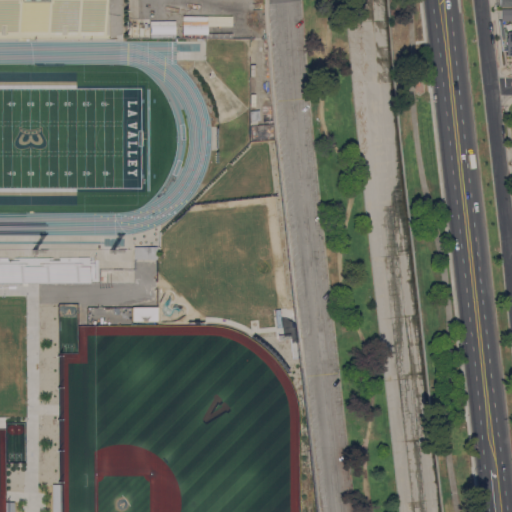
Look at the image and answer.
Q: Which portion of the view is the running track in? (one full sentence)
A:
You can find the running track in the top left area of the picture.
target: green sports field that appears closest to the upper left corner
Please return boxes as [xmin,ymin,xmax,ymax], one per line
[0,64,178,212]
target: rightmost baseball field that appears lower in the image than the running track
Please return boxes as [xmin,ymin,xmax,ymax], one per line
[60,326,300,512]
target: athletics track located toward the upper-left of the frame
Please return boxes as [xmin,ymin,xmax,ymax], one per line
[0,42,211,234]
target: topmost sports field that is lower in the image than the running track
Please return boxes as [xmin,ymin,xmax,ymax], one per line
[0,297,26,418]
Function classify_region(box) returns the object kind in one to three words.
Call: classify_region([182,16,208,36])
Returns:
building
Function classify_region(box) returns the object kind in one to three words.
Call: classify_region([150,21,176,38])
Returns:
shed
